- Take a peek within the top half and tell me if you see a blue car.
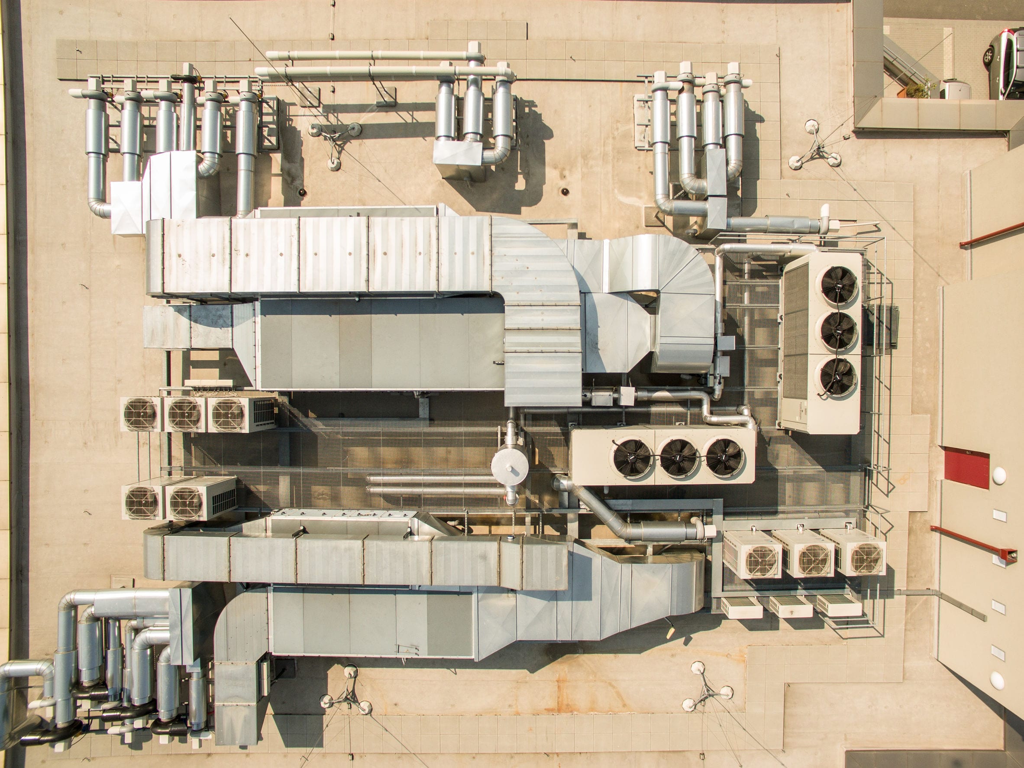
No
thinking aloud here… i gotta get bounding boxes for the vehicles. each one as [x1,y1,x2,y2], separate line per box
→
[978,25,1024,102]
[940,76,977,101]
